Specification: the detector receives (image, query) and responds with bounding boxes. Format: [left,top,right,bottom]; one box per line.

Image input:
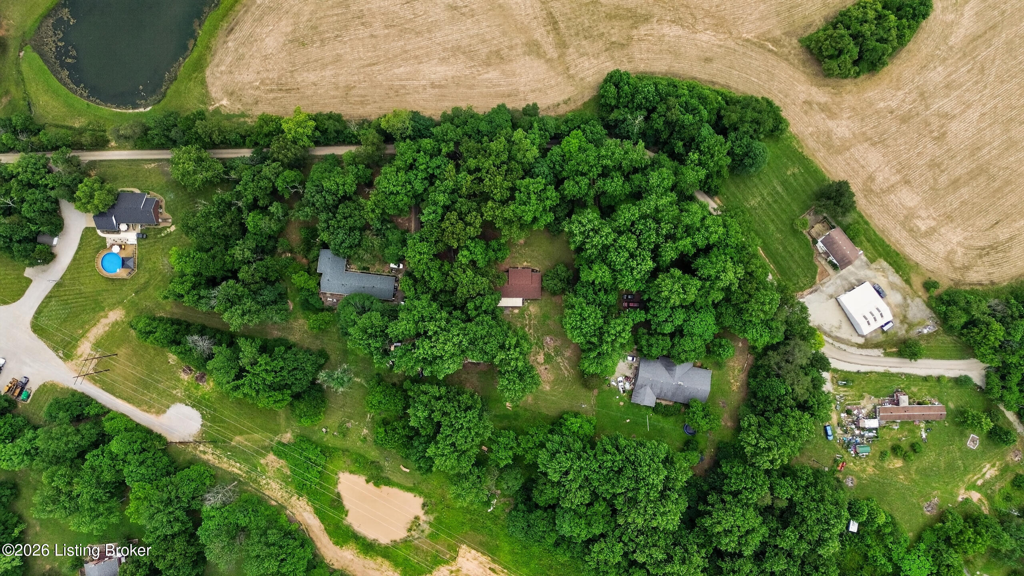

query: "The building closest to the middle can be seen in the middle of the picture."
[499,269,541,299]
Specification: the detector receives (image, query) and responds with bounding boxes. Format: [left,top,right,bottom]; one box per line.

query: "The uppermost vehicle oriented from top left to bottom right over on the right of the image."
[872,282,887,299]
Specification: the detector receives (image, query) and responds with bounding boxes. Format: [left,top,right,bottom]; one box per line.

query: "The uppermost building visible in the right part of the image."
[817,227,864,270]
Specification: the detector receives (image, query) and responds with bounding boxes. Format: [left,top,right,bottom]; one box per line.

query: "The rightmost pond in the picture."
[337,470,423,542]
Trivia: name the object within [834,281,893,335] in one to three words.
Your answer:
barn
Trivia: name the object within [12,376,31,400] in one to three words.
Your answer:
vehicle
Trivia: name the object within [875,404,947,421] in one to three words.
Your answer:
house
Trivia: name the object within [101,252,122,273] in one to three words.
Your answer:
swimming pool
